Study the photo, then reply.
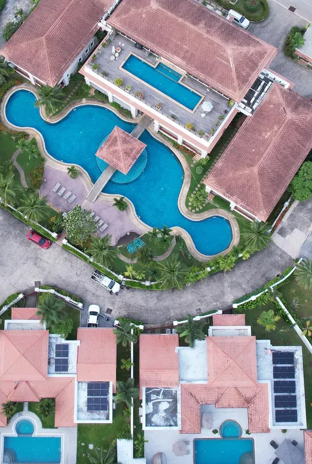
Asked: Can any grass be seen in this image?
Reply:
Yes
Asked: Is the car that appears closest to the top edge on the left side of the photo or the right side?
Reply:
right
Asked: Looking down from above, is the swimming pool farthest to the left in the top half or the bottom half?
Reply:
bottom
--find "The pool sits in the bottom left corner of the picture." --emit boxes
[0,414,65,464]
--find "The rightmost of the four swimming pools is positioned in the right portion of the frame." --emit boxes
[190,417,258,464]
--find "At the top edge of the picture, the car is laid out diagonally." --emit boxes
[224,7,250,28]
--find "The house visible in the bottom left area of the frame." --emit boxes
[0,307,117,427]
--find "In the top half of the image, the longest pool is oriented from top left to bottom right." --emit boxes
[2,81,242,264]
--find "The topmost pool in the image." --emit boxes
[119,51,205,115]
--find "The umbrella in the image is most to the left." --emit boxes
[171,439,189,458]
